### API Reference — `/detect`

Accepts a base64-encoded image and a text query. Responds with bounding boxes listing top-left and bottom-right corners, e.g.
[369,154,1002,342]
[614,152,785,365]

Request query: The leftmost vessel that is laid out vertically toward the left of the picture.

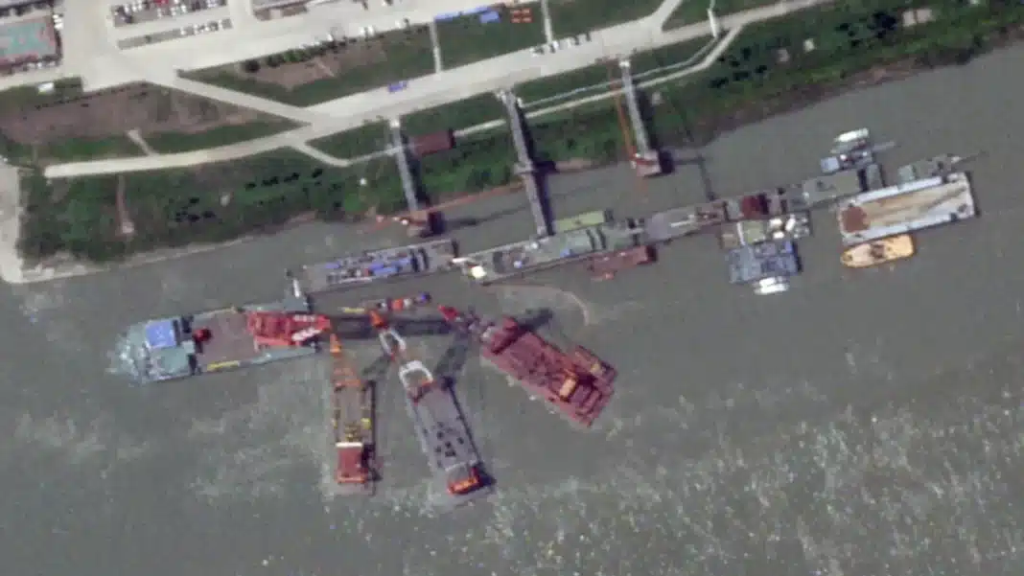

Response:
[331,336,373,490]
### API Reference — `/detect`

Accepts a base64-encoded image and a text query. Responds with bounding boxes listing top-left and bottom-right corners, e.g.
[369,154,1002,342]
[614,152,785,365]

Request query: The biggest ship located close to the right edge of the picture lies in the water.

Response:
[838,172,975,245]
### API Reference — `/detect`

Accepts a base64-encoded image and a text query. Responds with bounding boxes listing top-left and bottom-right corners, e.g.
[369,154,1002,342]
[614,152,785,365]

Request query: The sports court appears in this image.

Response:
[0,15,58,62]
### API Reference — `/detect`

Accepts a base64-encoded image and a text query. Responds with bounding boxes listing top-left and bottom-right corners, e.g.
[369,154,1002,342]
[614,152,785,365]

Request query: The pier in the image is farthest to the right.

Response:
[804,170,861,206]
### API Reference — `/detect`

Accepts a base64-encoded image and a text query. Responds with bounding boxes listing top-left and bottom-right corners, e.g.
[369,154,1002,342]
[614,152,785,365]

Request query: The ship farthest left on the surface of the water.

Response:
[114,296,333,382]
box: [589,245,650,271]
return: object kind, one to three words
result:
ship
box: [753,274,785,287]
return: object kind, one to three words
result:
boat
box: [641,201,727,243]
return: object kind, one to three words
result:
pier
